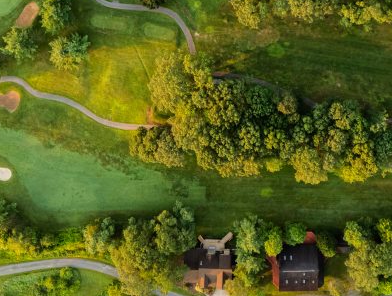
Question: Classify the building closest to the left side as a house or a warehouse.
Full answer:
It looks like the building closest to the left side is a house.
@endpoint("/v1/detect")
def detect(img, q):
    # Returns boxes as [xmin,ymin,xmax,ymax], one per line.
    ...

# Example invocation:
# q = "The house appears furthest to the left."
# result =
[184,232,233,293]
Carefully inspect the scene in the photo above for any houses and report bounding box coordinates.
[184,232,233,293]
[268,230,319,290]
